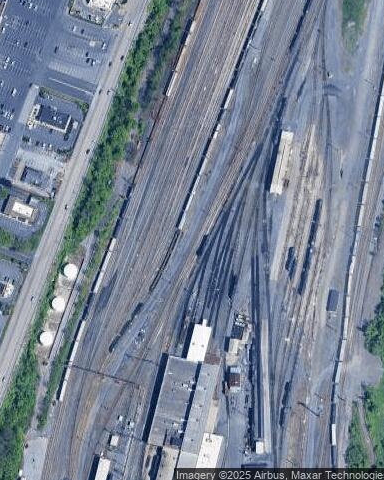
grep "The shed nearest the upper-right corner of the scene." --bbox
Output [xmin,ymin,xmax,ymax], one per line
[270,131,294,195]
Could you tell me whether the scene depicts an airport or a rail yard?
rail yard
